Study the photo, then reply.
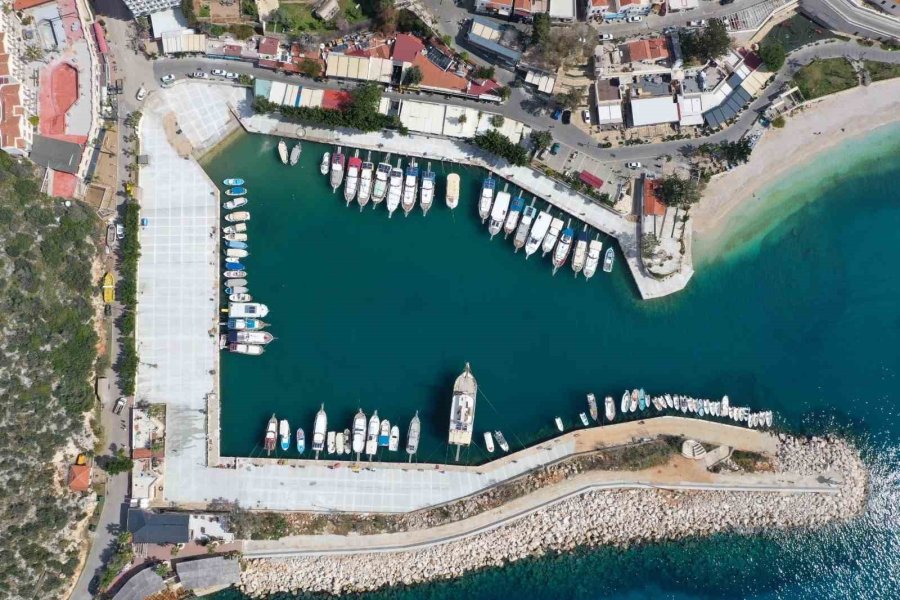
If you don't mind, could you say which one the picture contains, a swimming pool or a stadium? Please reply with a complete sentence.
The one in the frame is a swimming pool.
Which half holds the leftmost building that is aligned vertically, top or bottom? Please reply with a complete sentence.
You can find the leftmost building that is aligned vertically in the top half.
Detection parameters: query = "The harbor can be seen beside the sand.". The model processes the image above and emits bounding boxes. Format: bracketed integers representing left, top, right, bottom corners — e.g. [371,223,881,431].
[134,79,693,515]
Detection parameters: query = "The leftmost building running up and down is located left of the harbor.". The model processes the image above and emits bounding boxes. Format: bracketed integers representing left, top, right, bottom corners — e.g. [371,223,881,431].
[0,32,49,155]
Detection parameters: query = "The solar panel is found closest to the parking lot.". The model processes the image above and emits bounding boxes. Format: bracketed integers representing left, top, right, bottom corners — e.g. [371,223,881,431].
[422,46,452,71]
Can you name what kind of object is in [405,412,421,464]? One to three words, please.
boat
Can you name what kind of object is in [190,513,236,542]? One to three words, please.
house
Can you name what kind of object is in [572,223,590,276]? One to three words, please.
boat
